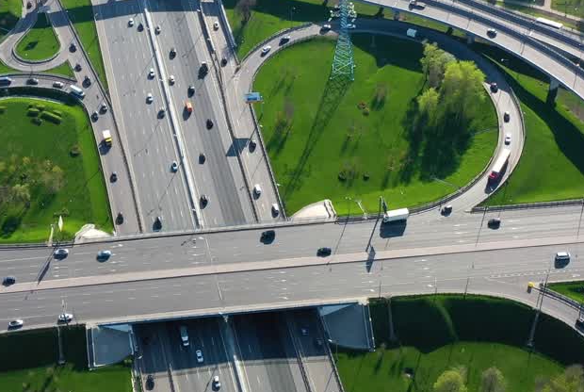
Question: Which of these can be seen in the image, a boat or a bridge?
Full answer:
Visible in the photo is a bridge.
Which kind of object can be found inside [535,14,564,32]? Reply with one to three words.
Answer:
vehicle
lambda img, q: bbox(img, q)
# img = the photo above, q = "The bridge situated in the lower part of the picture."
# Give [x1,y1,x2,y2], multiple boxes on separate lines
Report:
[85,214,377,327]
